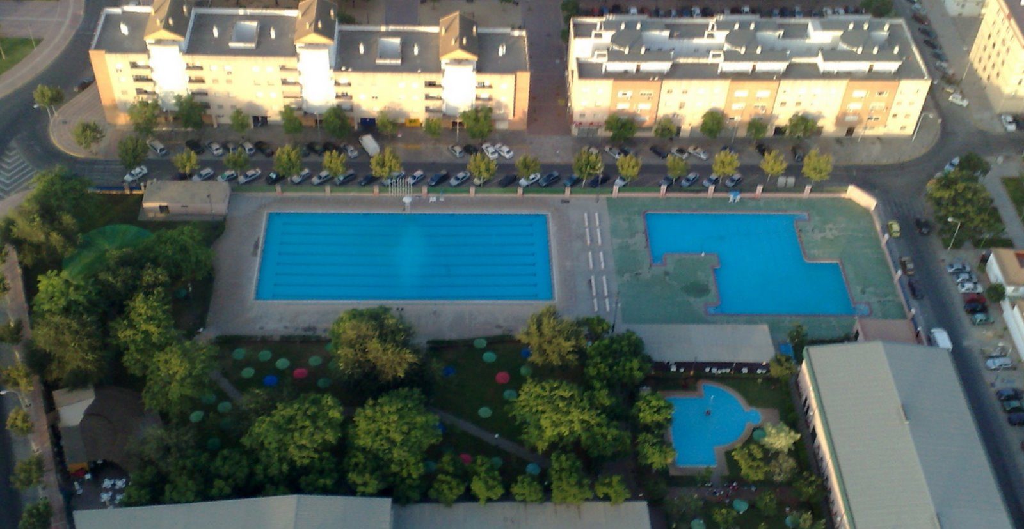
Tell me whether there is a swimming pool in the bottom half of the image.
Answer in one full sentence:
Yes, the scene does show a swimming pool in the bottom half of the image.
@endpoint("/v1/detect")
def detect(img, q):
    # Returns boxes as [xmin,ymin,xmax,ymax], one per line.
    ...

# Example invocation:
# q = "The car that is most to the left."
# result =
[73,78,95,92]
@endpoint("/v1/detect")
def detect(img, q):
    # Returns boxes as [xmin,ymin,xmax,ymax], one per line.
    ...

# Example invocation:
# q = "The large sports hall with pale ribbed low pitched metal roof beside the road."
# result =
[796,336,1017,529]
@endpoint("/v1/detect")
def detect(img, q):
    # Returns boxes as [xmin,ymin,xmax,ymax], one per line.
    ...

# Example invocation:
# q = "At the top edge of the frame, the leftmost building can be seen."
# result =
[91,0,530,132]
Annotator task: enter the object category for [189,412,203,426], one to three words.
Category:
umbrella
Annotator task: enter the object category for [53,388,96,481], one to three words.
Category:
building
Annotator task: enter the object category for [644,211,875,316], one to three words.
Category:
swimming pool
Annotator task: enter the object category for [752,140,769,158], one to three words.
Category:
car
